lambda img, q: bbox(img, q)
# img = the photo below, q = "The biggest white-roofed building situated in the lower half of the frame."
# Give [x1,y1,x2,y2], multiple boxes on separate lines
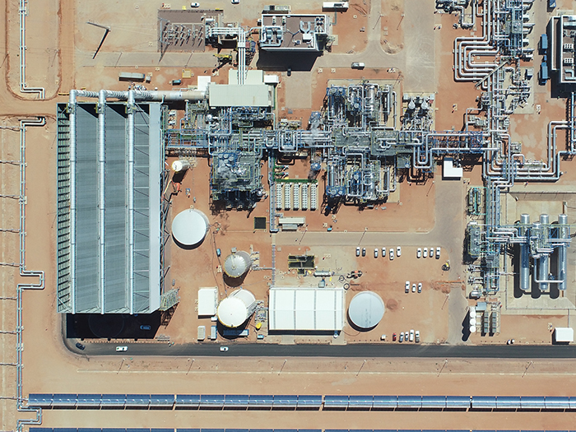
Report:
[269,287,343,331]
